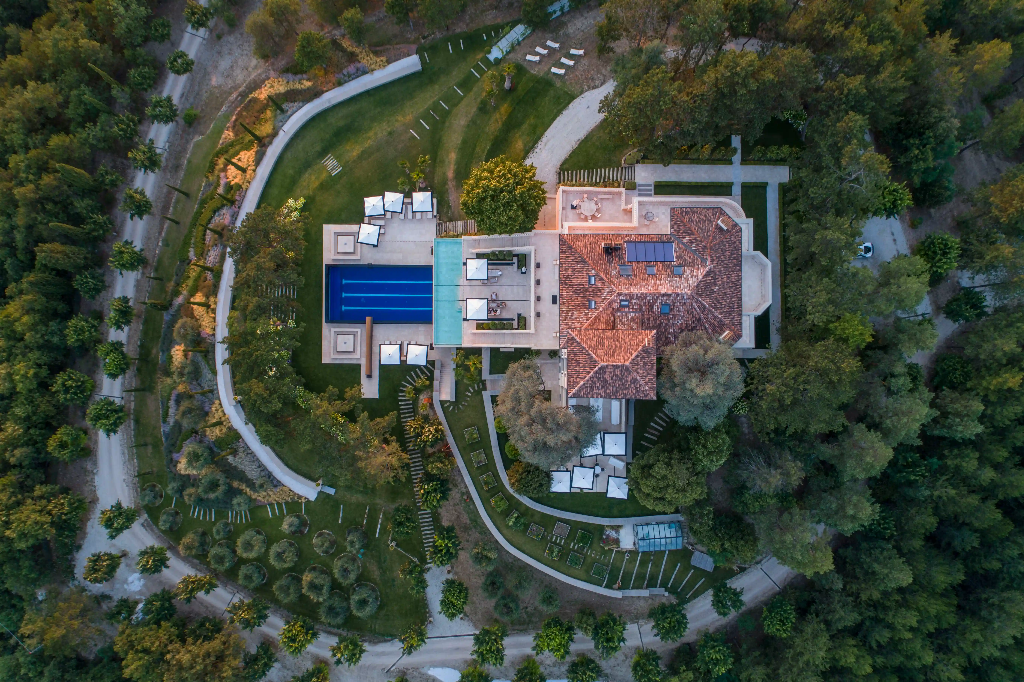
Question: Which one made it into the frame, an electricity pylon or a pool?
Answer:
pool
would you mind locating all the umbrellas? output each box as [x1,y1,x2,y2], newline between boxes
[582,431,603,458]
[411,192,434,213]
[549,470,571,493]
[606,475,630,500]
[364,196,386,218]
[602,432,627,456]
[383,192,405,214]
[379,344,401,365]
[406,344,429,366]
[571,465,595,490]
[356,223,382,247]
[466,258,489,281]
[466,298,489,321]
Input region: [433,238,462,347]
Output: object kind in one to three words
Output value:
swimming pool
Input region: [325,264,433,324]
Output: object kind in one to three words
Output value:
swimming pool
